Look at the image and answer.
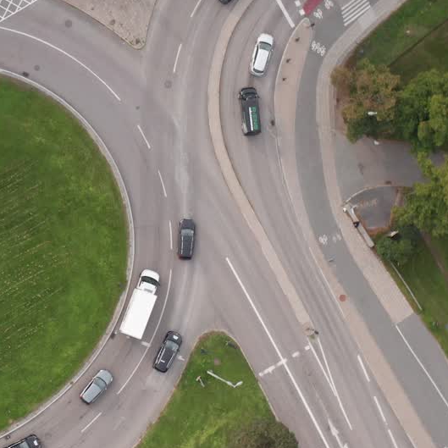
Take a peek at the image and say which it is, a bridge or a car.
car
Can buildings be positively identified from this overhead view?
No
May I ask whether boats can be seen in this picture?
No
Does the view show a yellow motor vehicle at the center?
No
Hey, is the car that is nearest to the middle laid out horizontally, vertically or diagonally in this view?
vertically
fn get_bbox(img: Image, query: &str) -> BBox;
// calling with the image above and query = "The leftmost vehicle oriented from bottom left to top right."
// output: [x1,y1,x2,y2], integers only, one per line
[78,369,112,405]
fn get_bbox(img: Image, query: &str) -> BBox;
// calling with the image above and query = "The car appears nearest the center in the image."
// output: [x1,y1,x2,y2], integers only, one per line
[176,218,197,259]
